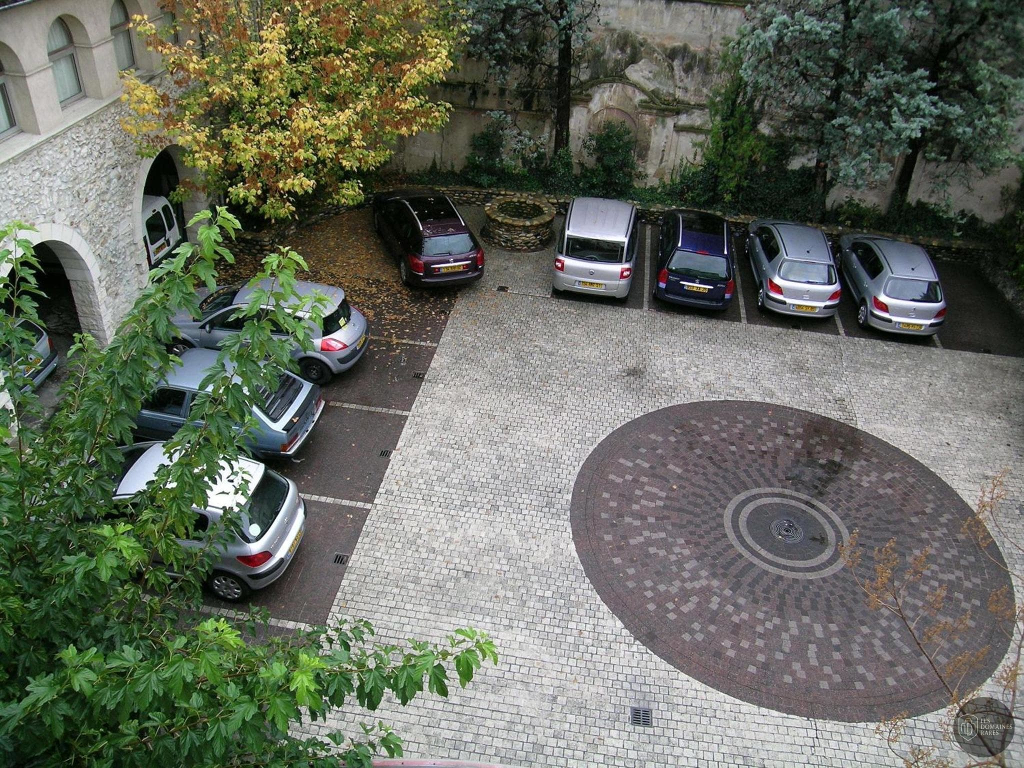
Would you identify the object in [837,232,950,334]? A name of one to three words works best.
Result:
car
